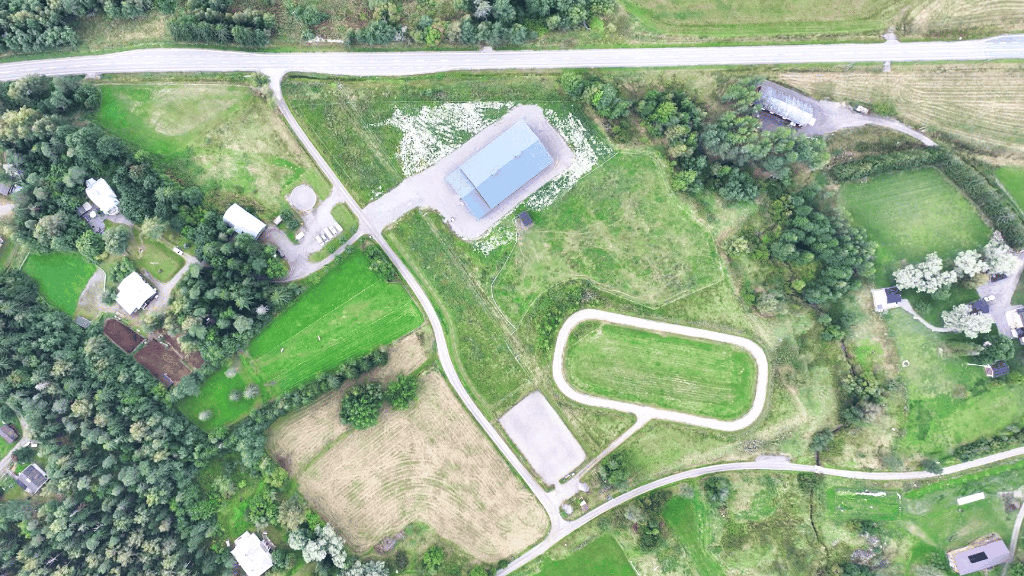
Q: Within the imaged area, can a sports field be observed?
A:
Yes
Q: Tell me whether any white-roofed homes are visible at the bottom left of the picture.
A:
Yes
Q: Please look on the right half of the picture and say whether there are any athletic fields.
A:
Yes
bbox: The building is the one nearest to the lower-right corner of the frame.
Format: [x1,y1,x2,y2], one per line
[947,533,1008,576]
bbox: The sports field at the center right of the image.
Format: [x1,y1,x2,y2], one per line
[840,167,993,299]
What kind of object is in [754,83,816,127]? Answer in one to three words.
barn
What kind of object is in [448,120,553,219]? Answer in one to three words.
building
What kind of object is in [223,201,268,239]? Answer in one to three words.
building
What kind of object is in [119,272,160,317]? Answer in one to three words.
house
